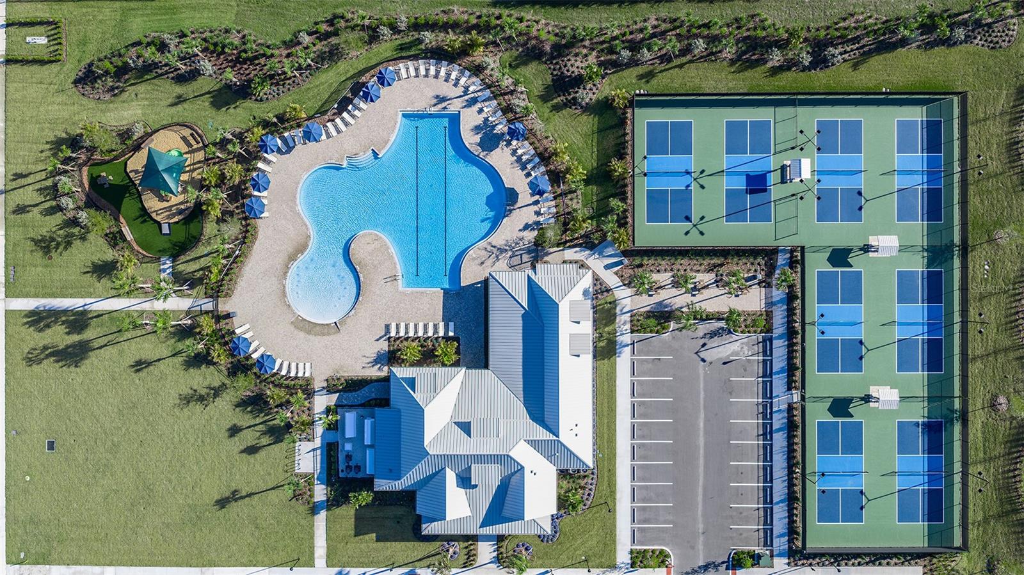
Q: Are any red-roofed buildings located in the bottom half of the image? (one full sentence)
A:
No, in the bottom half of the image there is no red-roofed building.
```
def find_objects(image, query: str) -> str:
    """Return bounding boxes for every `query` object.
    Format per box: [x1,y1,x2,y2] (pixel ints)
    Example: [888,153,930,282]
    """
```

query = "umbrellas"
[301,120,324,143]
[249,170,273,194]
[374,66,398,90]
[254,353,277,377]
[256,132,280,156]
[230,335,252,357]
[504,125,528,148]
[359,80,382,103]
[244,195,268,218]
[527,175,551,198]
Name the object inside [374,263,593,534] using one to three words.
building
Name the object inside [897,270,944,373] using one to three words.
sports court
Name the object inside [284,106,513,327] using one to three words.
swimming pool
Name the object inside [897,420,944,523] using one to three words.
sports court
